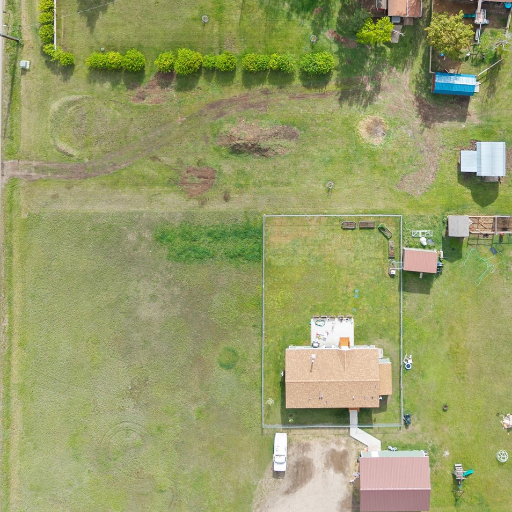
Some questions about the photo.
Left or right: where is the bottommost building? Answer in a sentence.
The bottommost building appears in the right half of the scene.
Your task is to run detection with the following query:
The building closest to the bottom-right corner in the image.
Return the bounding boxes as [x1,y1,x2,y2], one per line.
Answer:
[359,449,431,512]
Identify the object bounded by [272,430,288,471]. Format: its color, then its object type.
white vehicle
